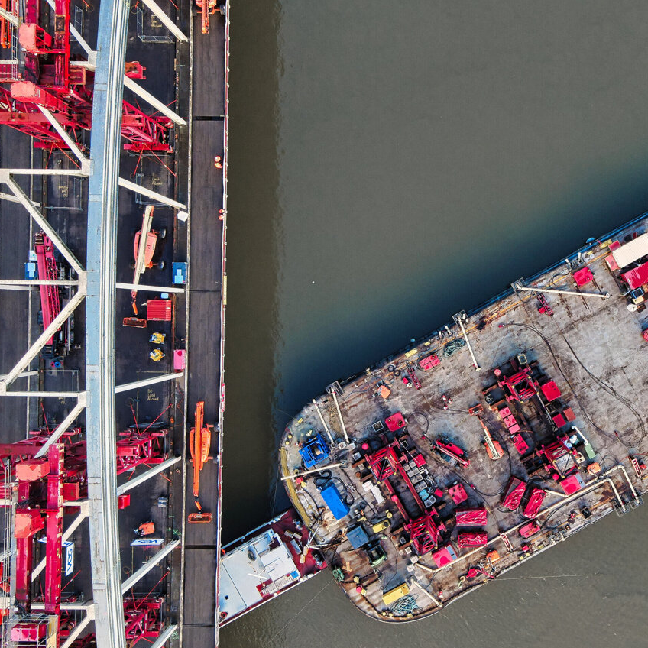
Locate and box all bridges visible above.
[0,0,233,648]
